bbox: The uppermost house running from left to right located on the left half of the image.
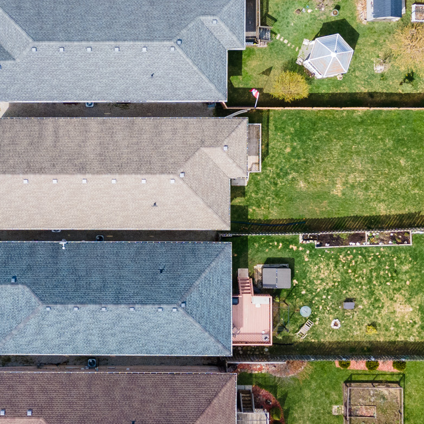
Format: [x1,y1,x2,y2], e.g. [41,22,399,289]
[0,0,246,103]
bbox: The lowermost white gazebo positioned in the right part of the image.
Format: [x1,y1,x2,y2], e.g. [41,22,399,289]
[303,33,354,78]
